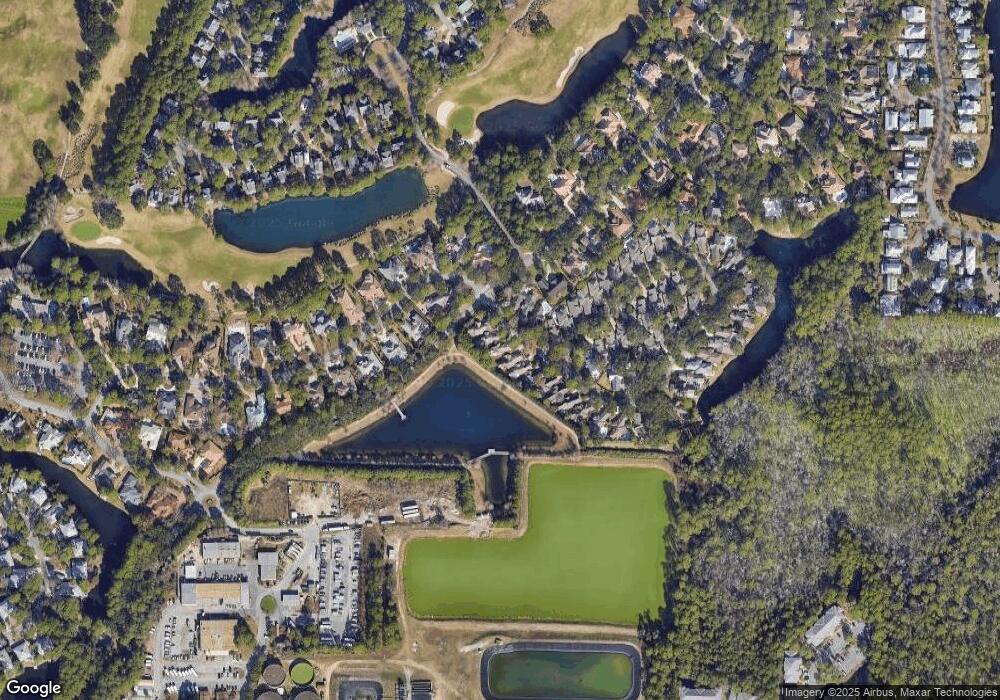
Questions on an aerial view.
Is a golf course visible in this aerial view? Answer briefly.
Yes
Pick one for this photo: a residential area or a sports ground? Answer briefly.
residential area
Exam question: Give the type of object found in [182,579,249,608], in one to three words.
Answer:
building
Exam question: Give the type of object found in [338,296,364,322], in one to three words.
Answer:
house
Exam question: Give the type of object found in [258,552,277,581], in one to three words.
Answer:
shed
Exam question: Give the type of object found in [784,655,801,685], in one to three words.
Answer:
barn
